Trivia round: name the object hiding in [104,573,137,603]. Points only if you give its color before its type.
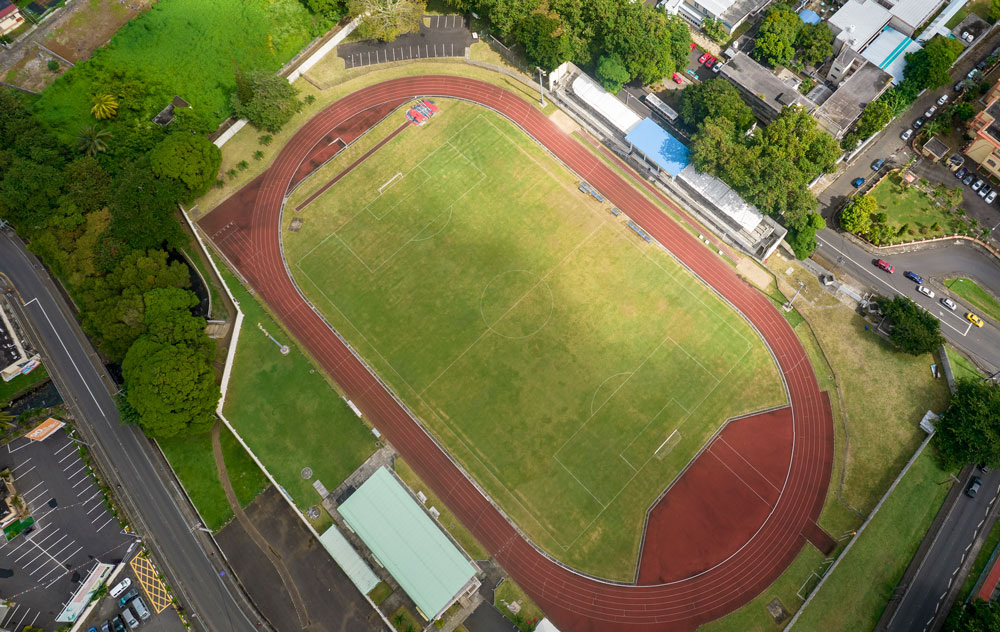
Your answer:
white van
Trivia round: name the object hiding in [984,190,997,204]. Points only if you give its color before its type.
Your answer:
white vehicle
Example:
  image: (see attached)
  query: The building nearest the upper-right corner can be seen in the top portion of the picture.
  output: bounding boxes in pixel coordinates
[952,13,991,54]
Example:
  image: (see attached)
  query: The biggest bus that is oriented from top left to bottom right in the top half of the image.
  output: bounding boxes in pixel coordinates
[645,96,679,130]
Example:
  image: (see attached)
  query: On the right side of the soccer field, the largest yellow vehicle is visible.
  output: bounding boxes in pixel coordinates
[965,312,983,328]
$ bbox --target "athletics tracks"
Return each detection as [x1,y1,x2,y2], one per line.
[196,71,841,632]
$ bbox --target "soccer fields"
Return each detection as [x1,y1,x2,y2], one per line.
[277,95,787,586]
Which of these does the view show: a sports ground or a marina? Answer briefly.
sports ground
